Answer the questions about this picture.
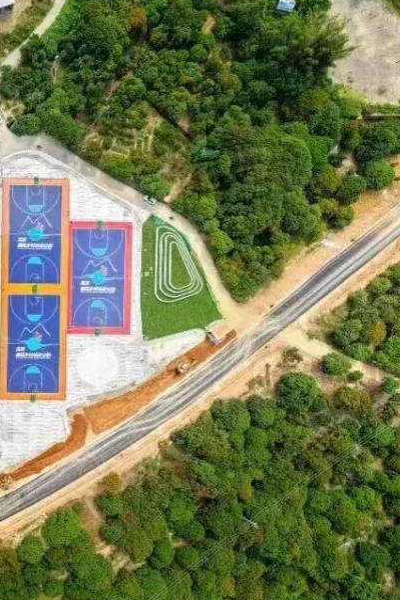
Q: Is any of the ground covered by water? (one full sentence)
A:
No, water can't be seen anywhere here.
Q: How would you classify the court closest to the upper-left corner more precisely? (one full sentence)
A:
Looking closely, the court closest to the upper-left corner is a basketball court.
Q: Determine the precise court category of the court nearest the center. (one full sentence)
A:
The court nearest the center in the image is a basketball court.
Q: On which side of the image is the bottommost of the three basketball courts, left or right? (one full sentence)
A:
The bottommost of the three basketball courts is on the left side of the image.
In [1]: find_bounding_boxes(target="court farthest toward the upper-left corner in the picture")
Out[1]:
[1,178,70,289]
